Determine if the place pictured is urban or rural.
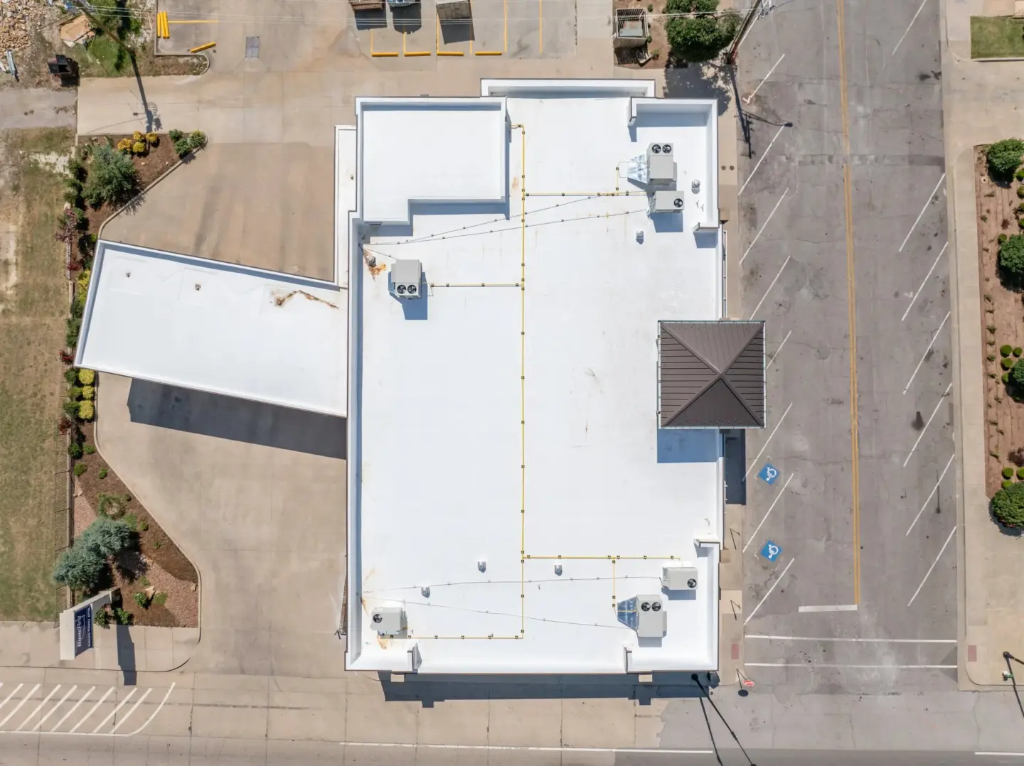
urban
